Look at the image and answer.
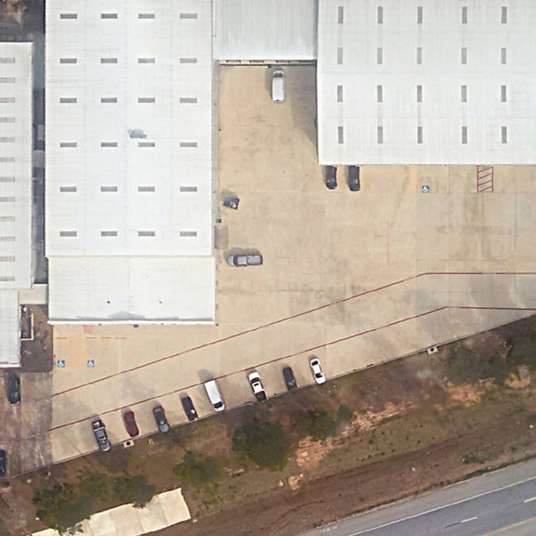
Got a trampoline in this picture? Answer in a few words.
No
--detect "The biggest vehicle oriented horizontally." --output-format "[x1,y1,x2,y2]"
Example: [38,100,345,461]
[228,254,264,267]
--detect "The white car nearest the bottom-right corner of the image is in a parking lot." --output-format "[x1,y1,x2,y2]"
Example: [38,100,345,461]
[310,357,326,384]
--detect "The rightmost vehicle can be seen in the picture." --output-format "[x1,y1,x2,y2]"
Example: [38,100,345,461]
[348,165,360,191]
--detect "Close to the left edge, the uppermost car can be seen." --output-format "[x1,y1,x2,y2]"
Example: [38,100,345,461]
[9,376,21,404]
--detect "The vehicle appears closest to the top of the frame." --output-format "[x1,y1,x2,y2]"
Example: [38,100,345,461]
[271,71,286,102]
